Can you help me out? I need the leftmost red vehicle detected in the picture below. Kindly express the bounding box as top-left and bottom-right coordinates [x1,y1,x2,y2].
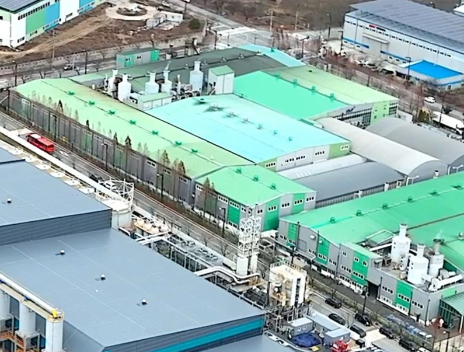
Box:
[29,133,51,149]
